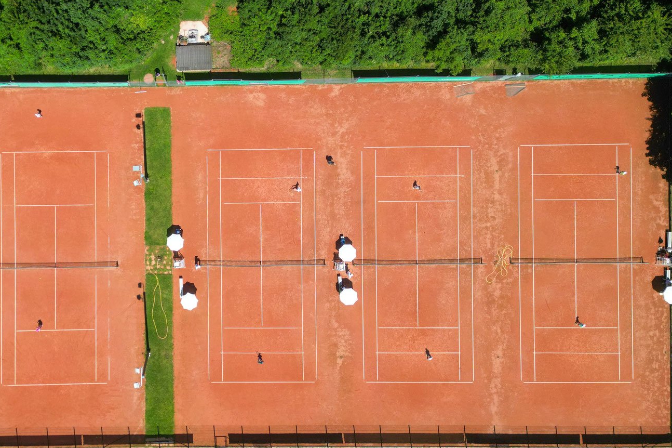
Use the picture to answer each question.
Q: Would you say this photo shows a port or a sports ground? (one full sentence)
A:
It's a sports ground.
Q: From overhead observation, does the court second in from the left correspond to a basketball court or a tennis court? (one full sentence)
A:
Looking closely, the court second in from the left is a tennis court.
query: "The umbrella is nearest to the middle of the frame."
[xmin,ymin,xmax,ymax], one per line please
[339,245,355,261]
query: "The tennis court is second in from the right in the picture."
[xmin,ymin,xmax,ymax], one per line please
[340,83,496,446]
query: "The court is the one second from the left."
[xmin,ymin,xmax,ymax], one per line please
[159,85,341,447]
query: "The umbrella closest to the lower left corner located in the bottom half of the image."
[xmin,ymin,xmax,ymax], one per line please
[181,293,197,310]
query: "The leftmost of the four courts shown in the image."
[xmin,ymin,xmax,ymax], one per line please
[0,87,160,447]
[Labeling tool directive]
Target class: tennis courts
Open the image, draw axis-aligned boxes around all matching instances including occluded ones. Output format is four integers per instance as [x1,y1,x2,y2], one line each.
[0,87,160,447]
[340,83,496,446]
[159,85,341,447]
[496,81,672,446]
